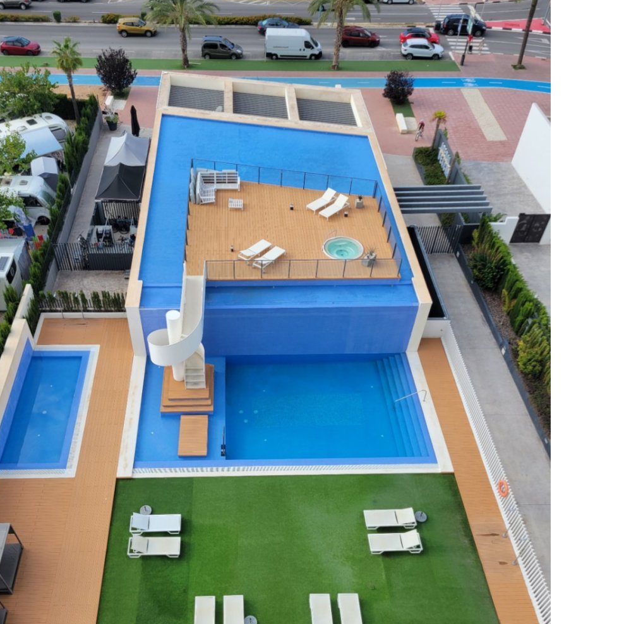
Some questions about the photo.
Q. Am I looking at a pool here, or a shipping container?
pool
